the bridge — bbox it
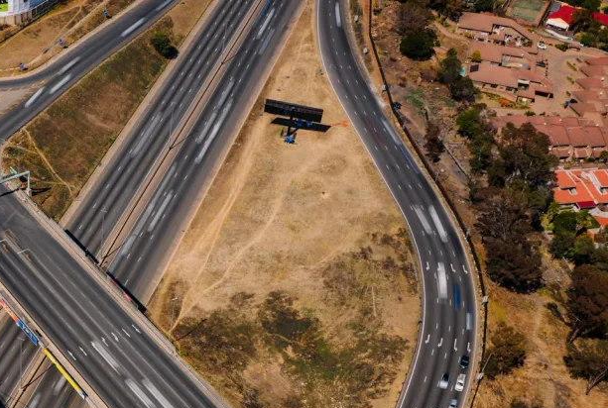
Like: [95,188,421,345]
[0,184,199,408]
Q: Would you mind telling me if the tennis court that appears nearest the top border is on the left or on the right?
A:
right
